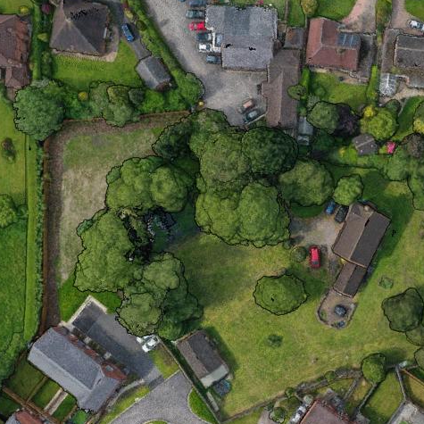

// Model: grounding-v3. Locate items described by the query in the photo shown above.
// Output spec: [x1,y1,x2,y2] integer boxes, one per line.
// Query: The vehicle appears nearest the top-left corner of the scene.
[120,21,136,43]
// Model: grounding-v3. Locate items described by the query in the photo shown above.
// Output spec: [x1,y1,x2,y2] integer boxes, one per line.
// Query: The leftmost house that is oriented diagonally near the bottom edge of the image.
[26,325,139,417]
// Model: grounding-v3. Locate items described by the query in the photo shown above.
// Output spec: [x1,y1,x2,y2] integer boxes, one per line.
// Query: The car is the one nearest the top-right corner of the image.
[407,17,424,30]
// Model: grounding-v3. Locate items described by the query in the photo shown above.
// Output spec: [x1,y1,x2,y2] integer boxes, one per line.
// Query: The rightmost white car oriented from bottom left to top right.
[292,403,309,424]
